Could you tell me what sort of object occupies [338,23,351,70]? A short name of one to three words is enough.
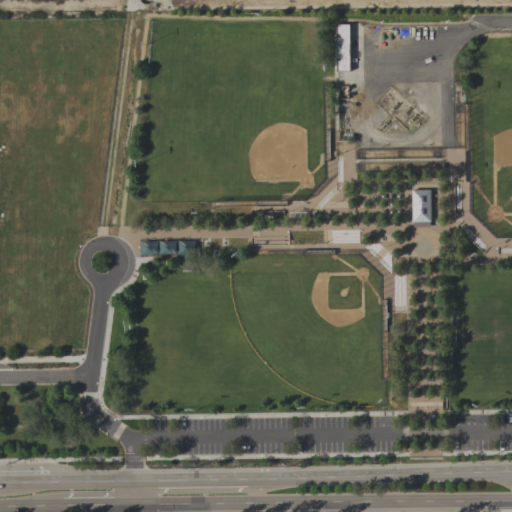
shed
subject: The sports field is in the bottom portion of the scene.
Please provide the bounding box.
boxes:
[447,262,512,410]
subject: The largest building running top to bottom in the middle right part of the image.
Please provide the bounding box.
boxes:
[412,188,432,227]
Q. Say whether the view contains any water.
No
